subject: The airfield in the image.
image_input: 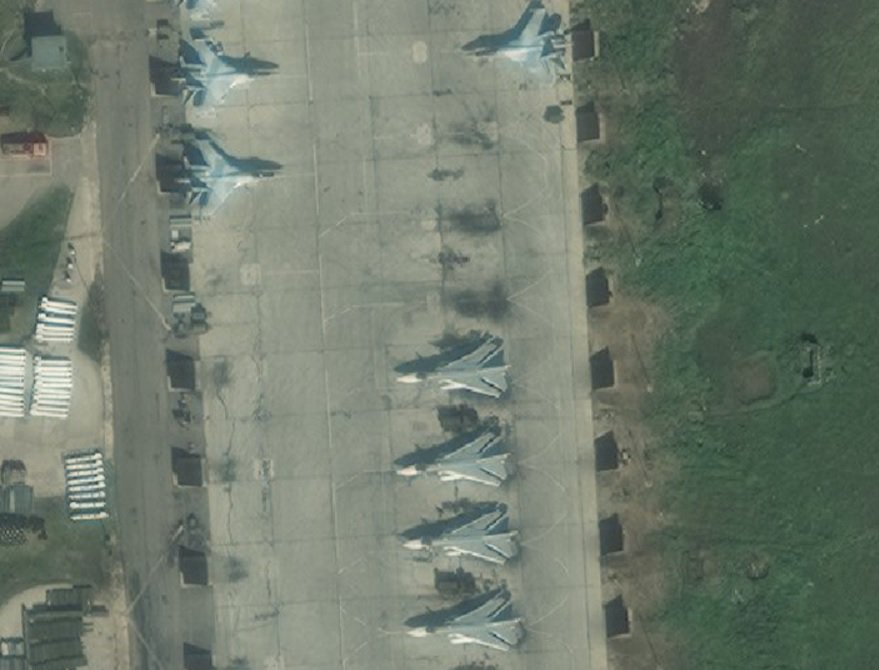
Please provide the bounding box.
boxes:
[90,0,606,670]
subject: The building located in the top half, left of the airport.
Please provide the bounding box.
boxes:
[31,36,66,73]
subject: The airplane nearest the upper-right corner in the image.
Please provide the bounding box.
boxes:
[464,8,573,85]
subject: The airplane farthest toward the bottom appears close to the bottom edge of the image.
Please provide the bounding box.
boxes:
[407,592,523,646]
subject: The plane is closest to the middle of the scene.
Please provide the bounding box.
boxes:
[396,342,512,395]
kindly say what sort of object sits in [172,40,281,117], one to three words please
airplane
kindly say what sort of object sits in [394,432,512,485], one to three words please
airplane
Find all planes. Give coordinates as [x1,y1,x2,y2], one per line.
[396,342,512,395]
[403,506,518,560]
[464,8,573,85]
[394,432,512,485]
[176,141,284,218]
[407,592,523,646]
[172,40,281,117]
